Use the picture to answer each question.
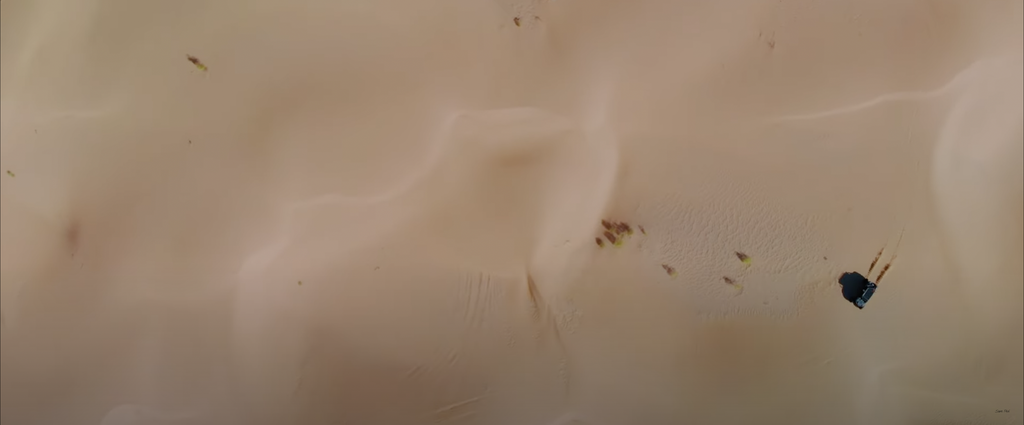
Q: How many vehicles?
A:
1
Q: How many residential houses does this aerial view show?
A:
0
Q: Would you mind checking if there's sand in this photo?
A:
Yes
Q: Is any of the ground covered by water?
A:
No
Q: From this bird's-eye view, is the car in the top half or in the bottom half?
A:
bottom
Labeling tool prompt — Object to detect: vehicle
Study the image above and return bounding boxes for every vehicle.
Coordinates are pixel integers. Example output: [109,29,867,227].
[853,280,879,309]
